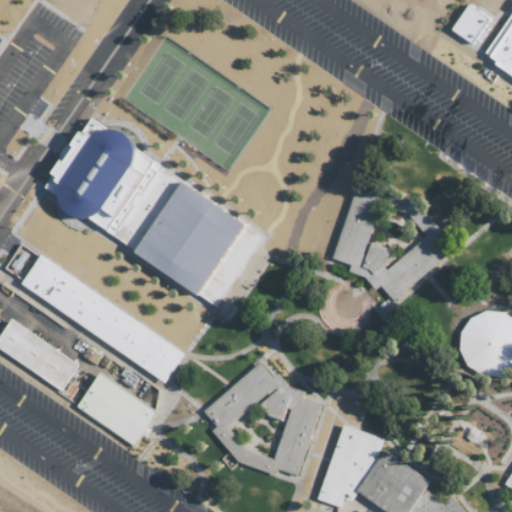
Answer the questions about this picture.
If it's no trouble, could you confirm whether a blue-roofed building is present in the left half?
Yes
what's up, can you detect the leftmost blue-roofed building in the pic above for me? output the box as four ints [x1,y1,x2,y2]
[44,118,136,219]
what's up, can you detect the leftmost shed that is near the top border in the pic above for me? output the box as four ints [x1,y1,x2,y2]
[452,4,492,44]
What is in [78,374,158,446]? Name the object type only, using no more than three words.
building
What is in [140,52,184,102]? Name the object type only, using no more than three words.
tennis court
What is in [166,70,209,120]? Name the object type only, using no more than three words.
tennis court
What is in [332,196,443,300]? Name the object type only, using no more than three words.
building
